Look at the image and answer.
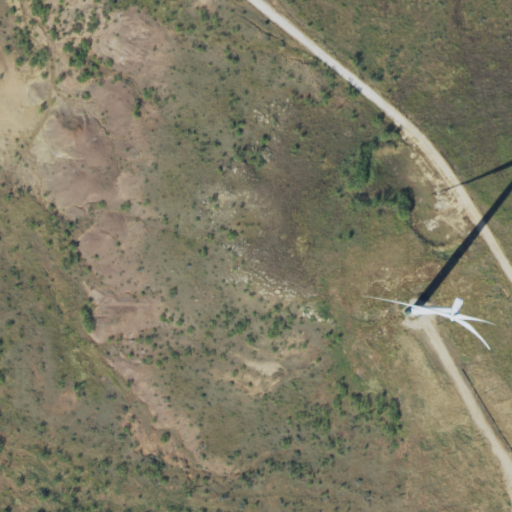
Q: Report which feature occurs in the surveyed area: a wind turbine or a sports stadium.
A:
wind turbine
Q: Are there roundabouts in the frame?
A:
No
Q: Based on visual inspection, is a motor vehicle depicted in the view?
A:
No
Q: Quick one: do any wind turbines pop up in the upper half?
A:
No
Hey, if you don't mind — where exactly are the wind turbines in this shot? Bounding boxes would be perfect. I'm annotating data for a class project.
[366,296,497,350]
